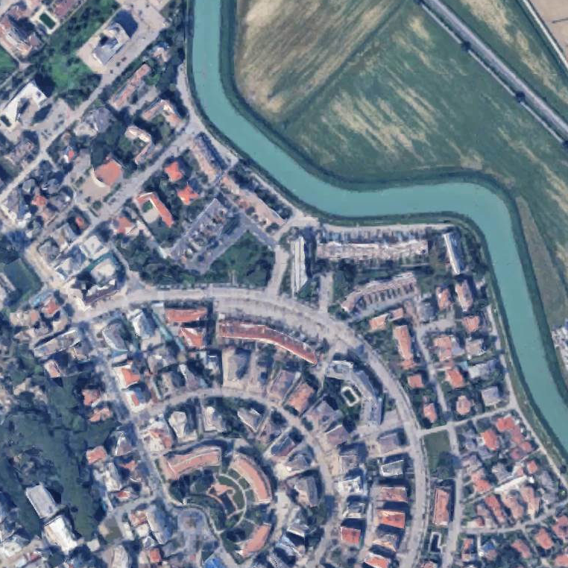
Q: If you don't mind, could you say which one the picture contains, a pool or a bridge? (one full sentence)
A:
I can see a pool in this picture.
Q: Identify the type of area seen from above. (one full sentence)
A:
What you see here is a residential area.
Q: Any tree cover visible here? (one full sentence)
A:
Yes, some tree cover is visible.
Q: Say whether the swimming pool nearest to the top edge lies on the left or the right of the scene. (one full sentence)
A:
The swimming pool nearest to the top edge appears in the left half of the scene.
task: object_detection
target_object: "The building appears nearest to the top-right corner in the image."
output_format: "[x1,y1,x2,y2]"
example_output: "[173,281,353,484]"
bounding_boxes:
[437,230,464,274]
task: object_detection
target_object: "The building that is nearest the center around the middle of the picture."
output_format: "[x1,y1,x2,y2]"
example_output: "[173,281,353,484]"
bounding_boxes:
[287,235,306,292]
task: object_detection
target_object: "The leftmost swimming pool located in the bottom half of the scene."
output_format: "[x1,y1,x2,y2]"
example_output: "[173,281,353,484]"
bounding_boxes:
[341,388,359,406]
